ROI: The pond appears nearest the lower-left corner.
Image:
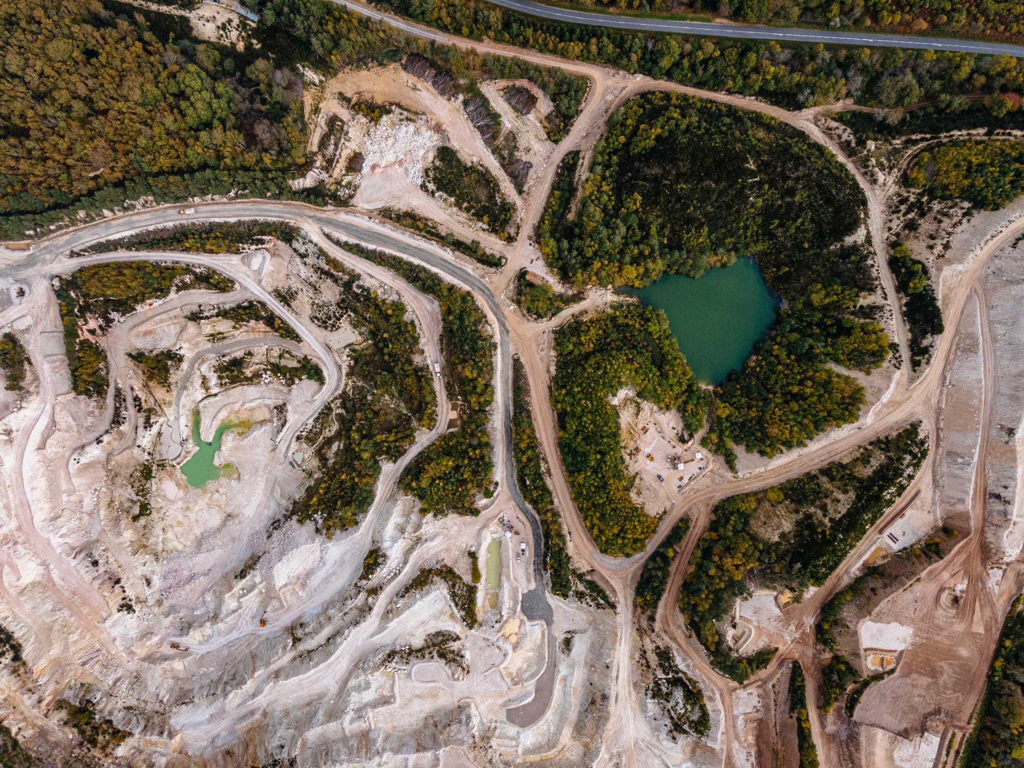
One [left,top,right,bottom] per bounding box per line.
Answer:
[181,406,253,491]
